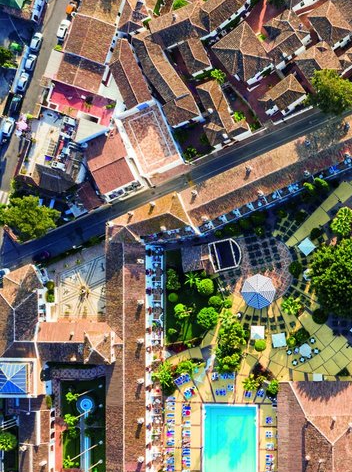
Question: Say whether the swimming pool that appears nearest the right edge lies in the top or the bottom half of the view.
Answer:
bottom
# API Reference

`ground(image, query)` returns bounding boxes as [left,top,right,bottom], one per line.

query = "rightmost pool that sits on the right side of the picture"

[201,404,258,472]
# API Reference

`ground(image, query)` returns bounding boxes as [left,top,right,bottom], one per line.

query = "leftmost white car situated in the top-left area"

[1,117,16,137]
